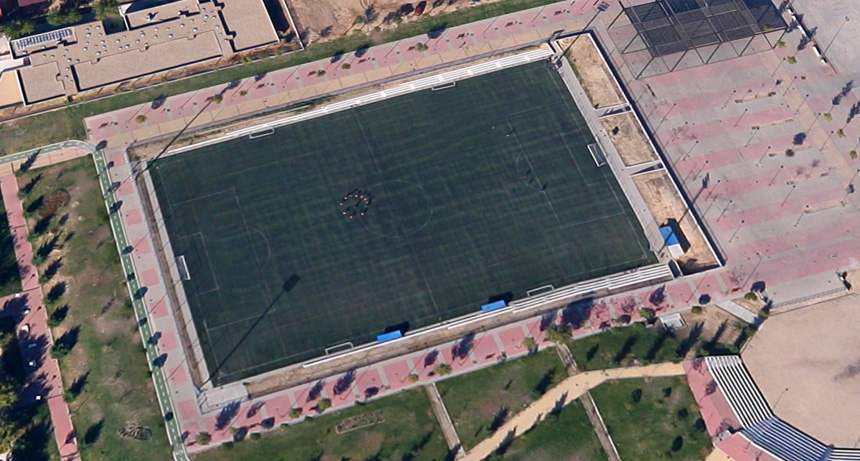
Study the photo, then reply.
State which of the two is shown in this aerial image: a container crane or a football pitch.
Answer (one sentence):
Visible in the photo is a football pitch.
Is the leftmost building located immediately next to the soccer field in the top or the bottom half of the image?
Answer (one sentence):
The leftmost building located immediately next to the soccer field is in the top half of the image.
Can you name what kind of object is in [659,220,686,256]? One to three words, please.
shed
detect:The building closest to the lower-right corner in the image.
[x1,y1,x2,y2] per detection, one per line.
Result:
[660,310,686,331]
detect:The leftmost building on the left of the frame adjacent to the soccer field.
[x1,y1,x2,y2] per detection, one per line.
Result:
[9,0,281,113]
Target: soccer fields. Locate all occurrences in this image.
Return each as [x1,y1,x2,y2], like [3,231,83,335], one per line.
[148,55,658,386]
